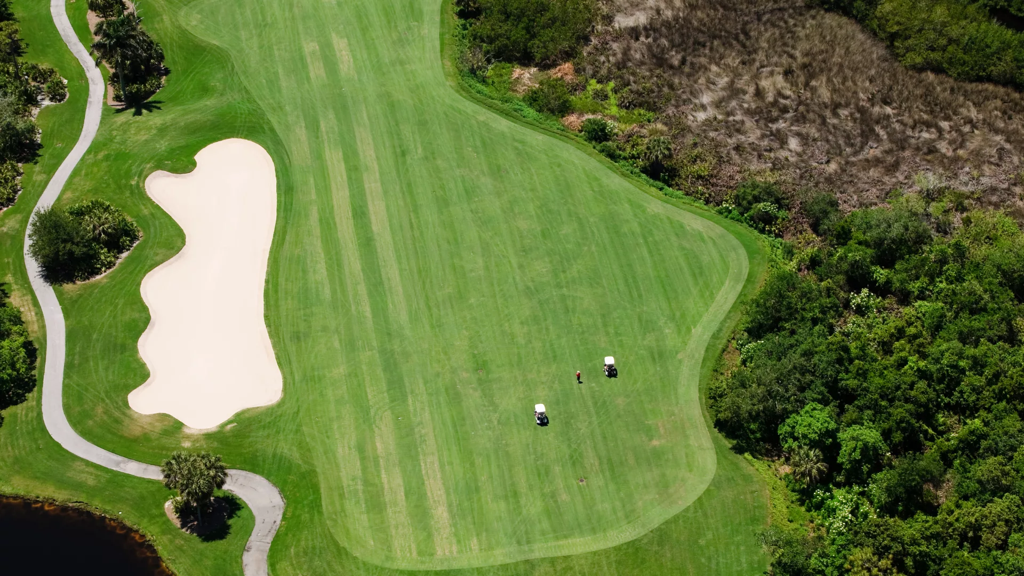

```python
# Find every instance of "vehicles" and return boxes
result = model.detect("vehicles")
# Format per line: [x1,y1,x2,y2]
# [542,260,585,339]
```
[534,403,547,426]
[604,356,616,378]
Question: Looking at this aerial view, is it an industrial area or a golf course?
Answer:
golf course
